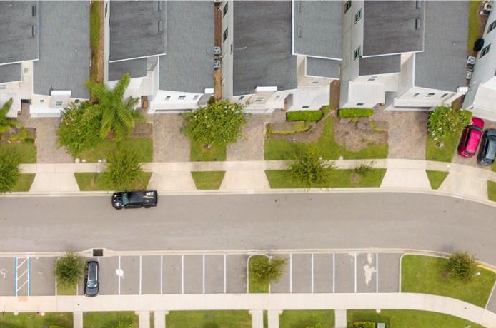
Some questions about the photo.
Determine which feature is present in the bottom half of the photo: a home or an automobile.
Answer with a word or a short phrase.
automobile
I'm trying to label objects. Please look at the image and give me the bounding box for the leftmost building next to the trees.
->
[0,0,89,124]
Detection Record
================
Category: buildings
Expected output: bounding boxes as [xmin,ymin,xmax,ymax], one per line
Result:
[0,0,89,124]
[341,0,468,114]
[102,0,213,115]
[466,13,496,116]
[220,0,338,115]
